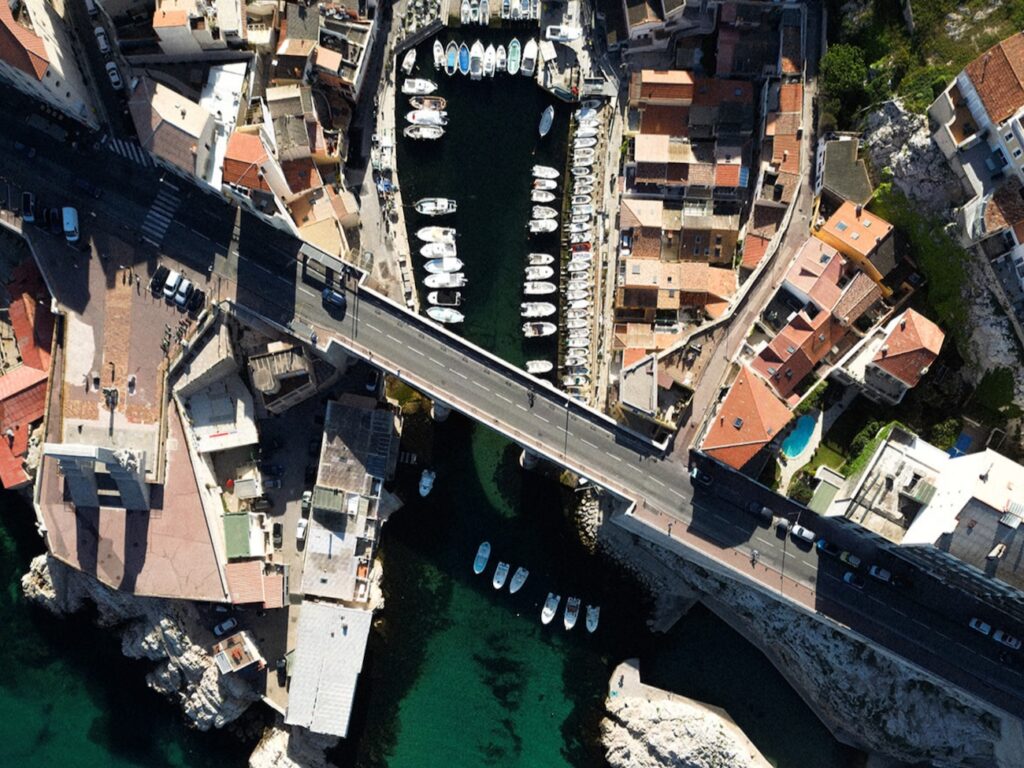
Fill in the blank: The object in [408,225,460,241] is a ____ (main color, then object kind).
white boat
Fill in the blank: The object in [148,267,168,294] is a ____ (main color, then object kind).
black car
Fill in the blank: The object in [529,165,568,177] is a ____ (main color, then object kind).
white boat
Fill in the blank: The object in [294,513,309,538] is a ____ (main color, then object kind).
white vehicle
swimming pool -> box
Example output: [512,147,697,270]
[779,413,819,461]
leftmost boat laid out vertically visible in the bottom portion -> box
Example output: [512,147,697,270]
[419,466,435,496]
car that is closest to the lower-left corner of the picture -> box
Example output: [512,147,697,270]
[212,616,237,637]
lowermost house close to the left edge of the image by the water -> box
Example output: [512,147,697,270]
[0,421,36,496]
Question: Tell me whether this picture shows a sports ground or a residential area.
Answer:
residential area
